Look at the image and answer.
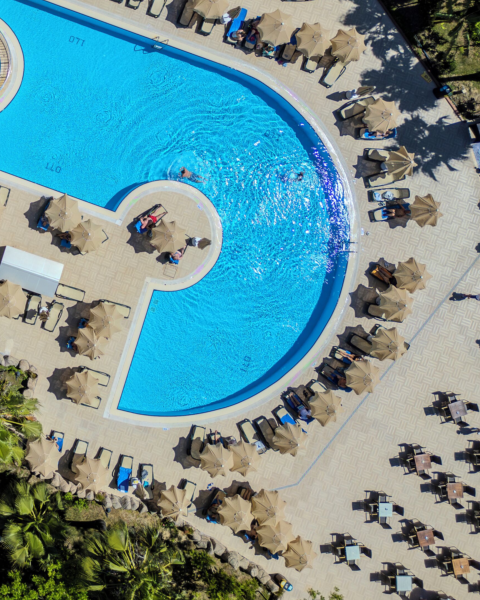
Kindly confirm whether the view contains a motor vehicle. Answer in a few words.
No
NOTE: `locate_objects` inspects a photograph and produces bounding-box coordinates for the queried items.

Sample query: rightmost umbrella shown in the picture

[410,194,450,229]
